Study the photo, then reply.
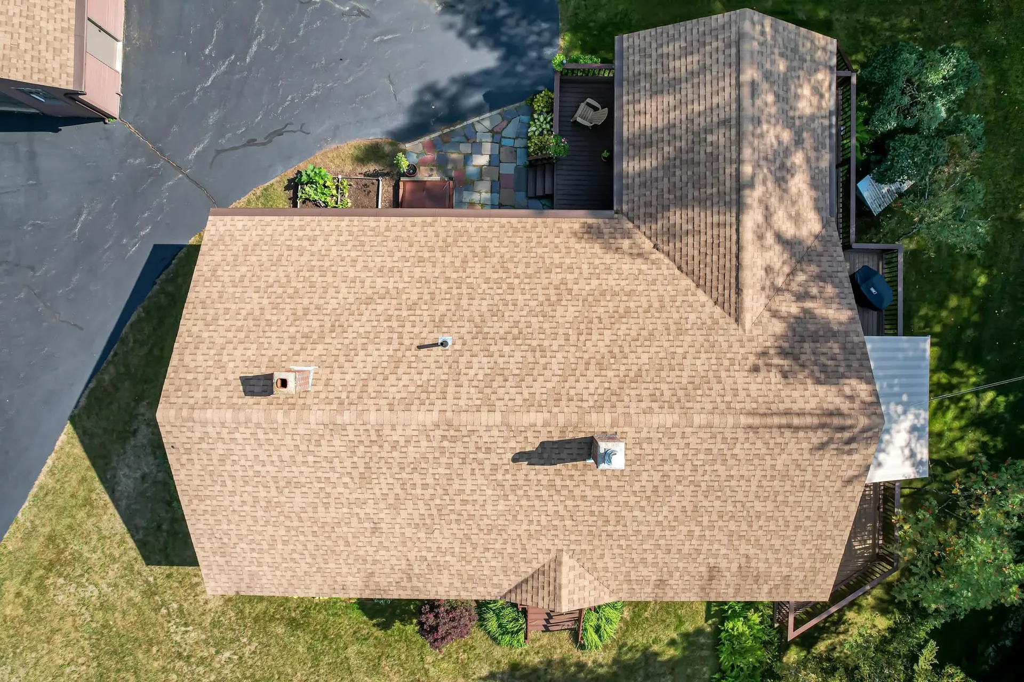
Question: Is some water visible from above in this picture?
No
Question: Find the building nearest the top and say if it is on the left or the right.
left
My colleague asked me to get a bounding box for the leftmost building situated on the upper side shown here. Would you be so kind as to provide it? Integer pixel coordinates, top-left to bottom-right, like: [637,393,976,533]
[0,0,124,122]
